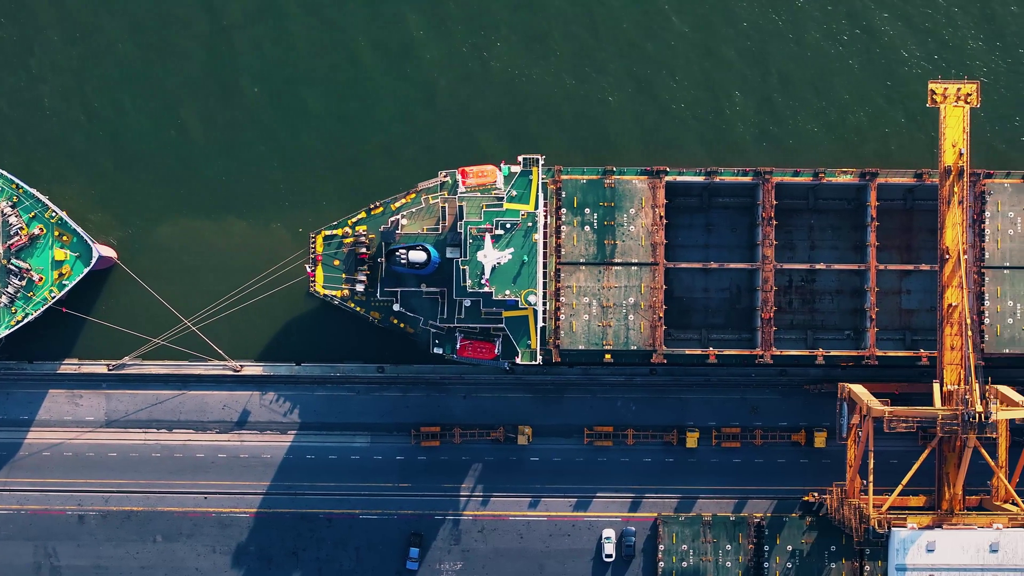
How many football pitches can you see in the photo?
0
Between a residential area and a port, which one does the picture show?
port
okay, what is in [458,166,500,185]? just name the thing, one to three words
boat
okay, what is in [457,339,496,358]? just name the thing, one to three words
boat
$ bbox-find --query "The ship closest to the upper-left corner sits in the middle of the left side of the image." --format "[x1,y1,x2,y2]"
[0,169,118,337]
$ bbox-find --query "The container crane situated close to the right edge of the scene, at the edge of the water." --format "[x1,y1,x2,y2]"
[809,80,1024,576]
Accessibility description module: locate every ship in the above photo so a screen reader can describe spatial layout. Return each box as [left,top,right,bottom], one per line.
[305,155,1024,370]
[0,169,118,337]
